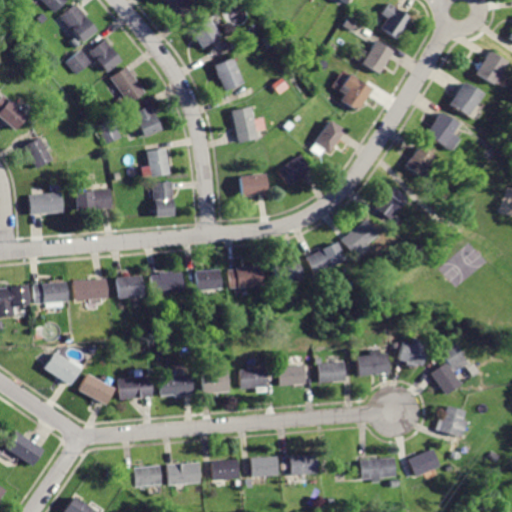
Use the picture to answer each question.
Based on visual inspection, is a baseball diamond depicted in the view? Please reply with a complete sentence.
No, there appears to be no baseball diamond in this shot.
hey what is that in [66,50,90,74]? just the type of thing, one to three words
building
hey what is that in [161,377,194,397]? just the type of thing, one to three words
house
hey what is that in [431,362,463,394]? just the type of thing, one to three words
house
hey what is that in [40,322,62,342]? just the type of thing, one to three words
swimming pool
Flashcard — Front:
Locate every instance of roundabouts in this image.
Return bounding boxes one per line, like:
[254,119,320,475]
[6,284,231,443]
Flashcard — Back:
[434,0,486,36]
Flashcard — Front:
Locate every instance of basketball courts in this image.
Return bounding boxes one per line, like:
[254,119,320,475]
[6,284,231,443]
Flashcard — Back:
[440,244,485,287]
